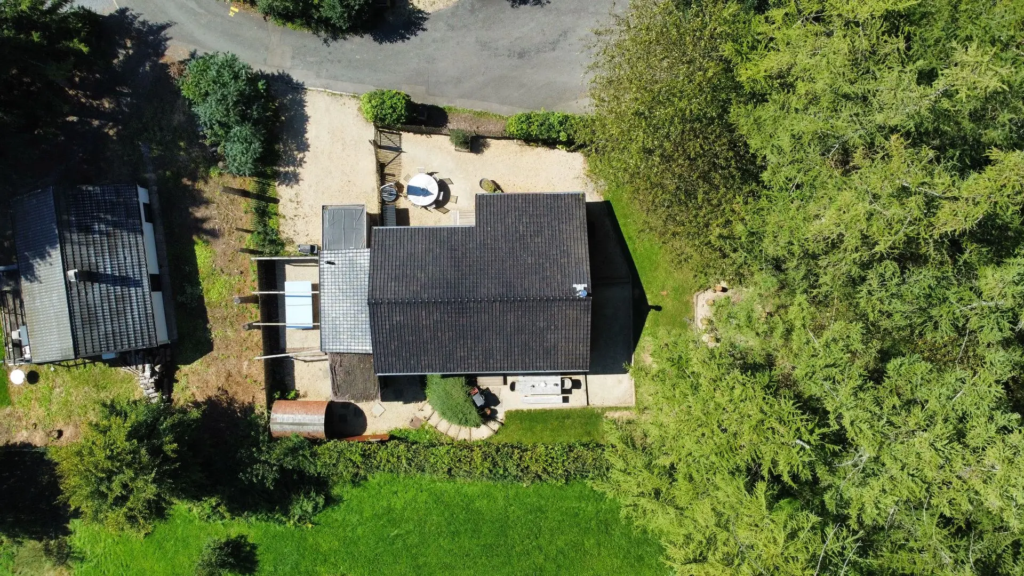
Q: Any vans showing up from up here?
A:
No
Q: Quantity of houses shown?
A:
2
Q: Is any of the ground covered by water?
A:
No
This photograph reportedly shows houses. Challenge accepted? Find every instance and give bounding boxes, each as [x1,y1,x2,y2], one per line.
[9,182,172,364]
[366,191,593,374]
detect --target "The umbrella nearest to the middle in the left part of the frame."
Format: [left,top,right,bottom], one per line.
[380,181,409,201]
